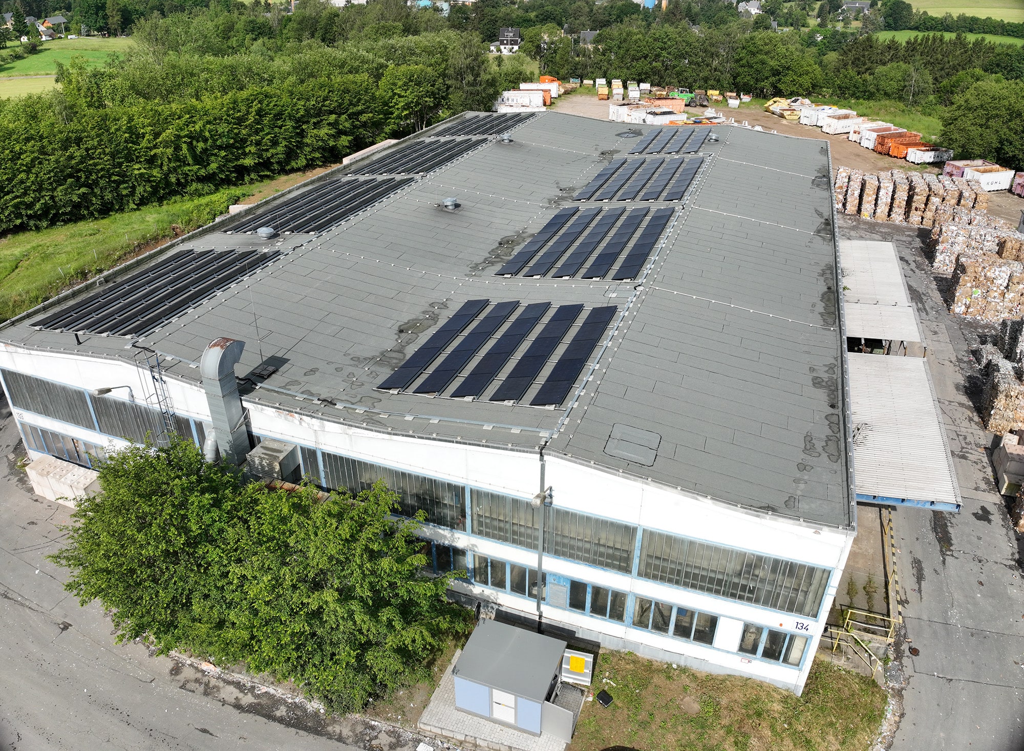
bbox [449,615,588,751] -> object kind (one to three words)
shed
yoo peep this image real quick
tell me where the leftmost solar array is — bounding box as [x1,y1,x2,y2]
[31,244,281,341]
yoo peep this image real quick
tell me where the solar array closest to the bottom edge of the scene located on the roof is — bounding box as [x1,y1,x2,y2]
[374,295,617,413]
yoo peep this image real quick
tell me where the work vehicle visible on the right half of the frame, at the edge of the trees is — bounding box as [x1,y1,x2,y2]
[677,87,709,108]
